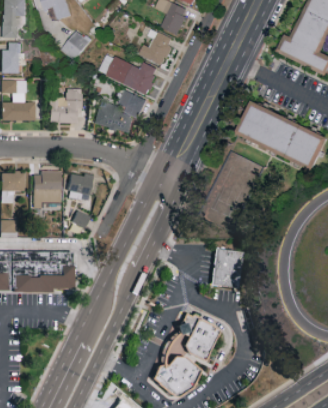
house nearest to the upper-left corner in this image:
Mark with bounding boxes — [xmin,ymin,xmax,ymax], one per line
[2,0,26,38]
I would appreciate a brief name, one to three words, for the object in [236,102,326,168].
building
